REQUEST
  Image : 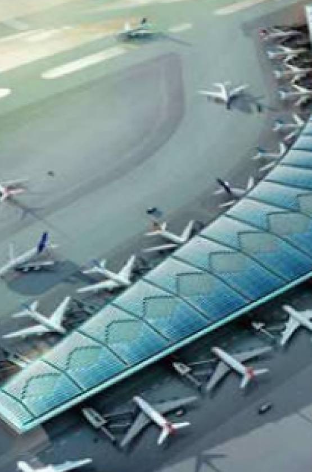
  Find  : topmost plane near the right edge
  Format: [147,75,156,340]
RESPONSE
[262,25,300,41]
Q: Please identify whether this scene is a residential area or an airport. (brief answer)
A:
airport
